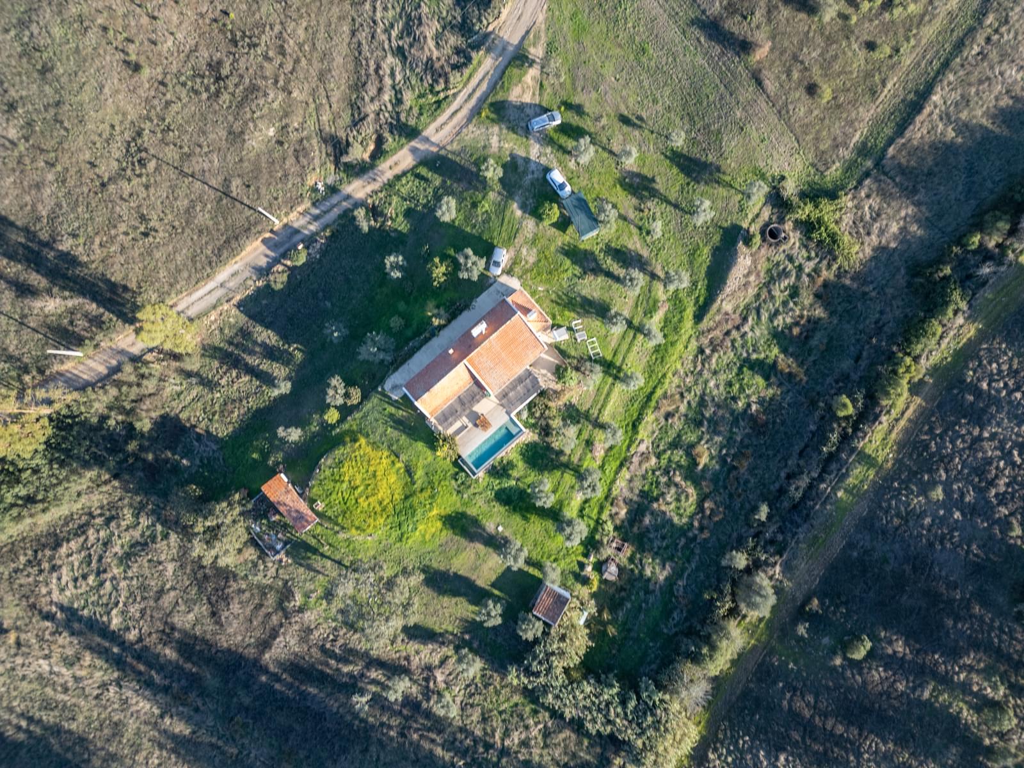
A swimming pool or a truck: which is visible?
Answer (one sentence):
This aerial view contains a swimming pool.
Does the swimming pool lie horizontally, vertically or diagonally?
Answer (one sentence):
The swimming pool is laid out diagonally.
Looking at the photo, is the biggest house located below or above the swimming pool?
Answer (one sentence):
The biggest house is above the swimming pool.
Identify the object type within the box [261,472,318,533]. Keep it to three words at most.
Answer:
shed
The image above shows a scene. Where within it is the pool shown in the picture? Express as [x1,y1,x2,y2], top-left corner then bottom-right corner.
[458,415,526,475]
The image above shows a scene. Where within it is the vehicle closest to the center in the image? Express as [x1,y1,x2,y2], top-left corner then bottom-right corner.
[489,246,506,276]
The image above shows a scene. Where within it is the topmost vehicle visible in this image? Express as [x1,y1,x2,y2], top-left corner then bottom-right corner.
[528,110,562,131]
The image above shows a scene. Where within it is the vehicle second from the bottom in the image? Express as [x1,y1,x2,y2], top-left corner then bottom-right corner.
[546,166,572,198]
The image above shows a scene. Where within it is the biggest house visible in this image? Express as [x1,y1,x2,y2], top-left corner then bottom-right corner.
[402,288,552,420]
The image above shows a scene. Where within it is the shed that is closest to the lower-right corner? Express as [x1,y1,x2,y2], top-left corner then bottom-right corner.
[532,581,571,625]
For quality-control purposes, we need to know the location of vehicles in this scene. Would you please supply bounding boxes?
[546,166,572,198]
[489,246,506,276]
[528,110,562,131]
